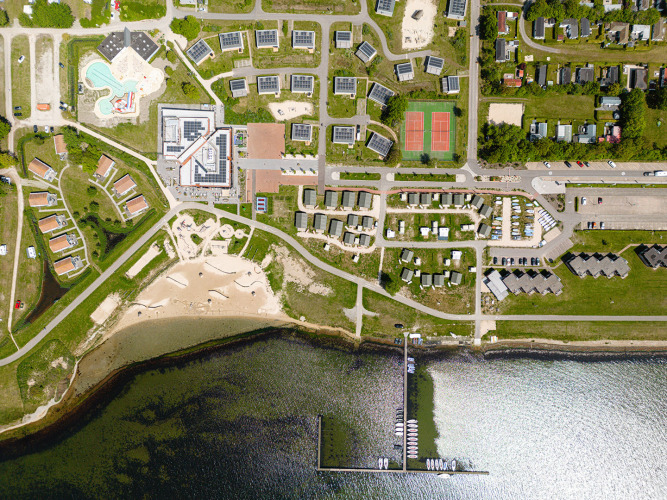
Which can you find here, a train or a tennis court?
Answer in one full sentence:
The one in the frame is a tennis court.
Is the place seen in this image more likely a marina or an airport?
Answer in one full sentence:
The picture captures a marina.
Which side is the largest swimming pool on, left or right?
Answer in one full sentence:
The largest swimming pool is on the left side of the image.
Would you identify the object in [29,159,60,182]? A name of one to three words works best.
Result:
house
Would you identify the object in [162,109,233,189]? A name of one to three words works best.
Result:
building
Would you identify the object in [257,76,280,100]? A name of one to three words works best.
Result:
house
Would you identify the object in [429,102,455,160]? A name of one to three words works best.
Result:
tennis court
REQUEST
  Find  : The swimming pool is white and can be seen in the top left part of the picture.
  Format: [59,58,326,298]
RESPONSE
[81,49,165,118]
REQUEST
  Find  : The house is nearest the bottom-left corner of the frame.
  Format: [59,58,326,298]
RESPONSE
[54,255,87,275]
